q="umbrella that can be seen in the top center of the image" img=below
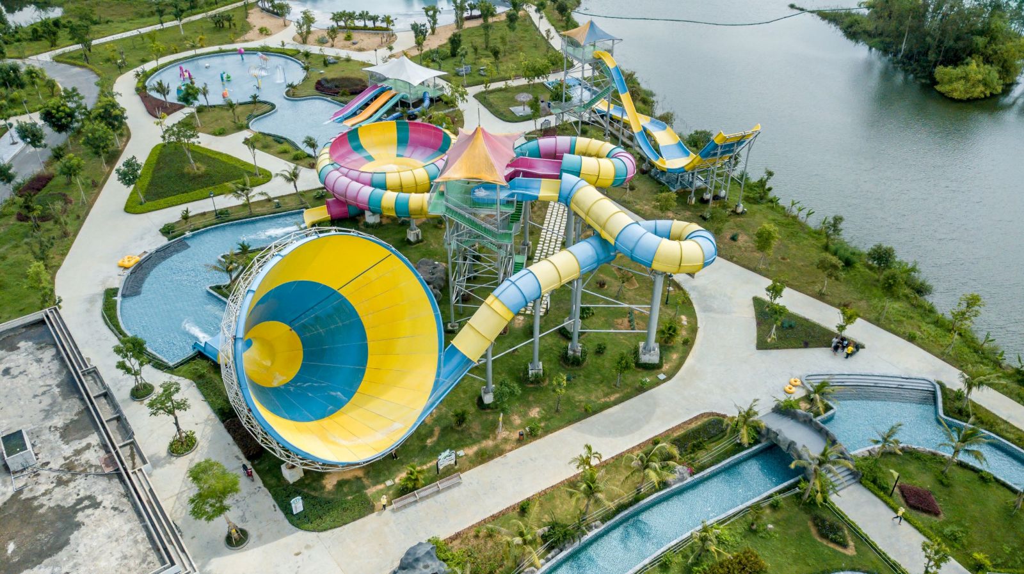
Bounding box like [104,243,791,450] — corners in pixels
[512,92,535,110]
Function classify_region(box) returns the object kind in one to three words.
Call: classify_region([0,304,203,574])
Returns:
building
